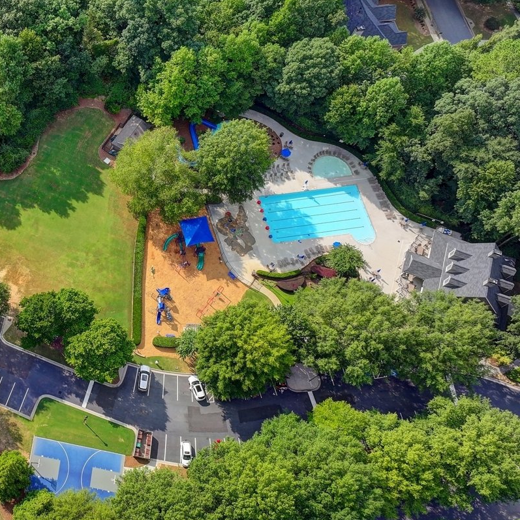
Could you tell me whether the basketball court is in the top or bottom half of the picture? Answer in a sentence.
The basketball court sits in the bottom half of the picture.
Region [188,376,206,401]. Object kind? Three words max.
car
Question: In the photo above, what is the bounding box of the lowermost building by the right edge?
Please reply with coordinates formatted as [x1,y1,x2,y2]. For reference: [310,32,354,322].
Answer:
[400,228,520,322]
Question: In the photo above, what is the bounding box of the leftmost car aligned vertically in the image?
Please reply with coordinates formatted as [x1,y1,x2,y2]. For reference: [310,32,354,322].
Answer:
[138,366,150,392]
